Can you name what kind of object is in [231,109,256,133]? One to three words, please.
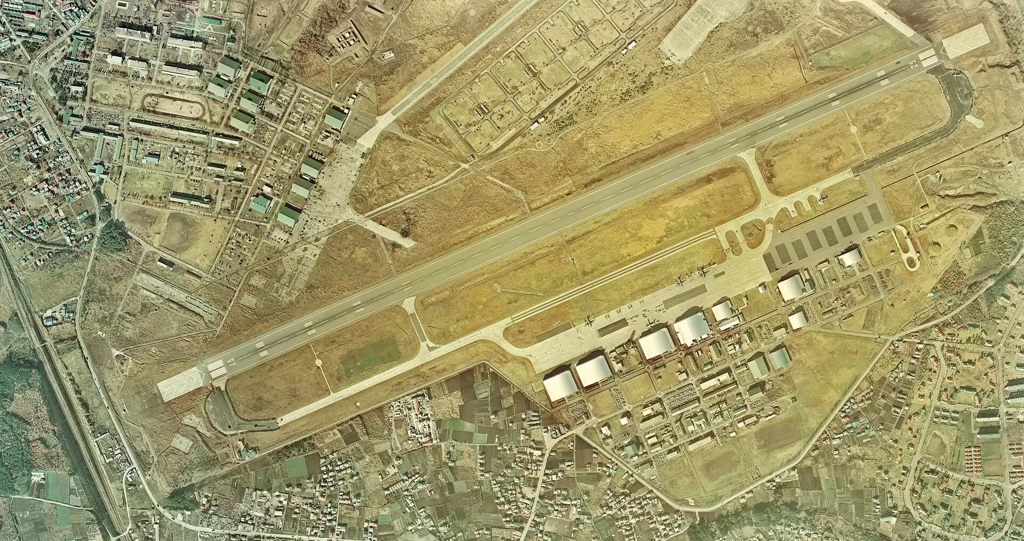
hangar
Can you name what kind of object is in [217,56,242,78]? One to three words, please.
hangar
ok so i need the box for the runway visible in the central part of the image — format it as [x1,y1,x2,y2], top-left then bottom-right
[200,42,947,384]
